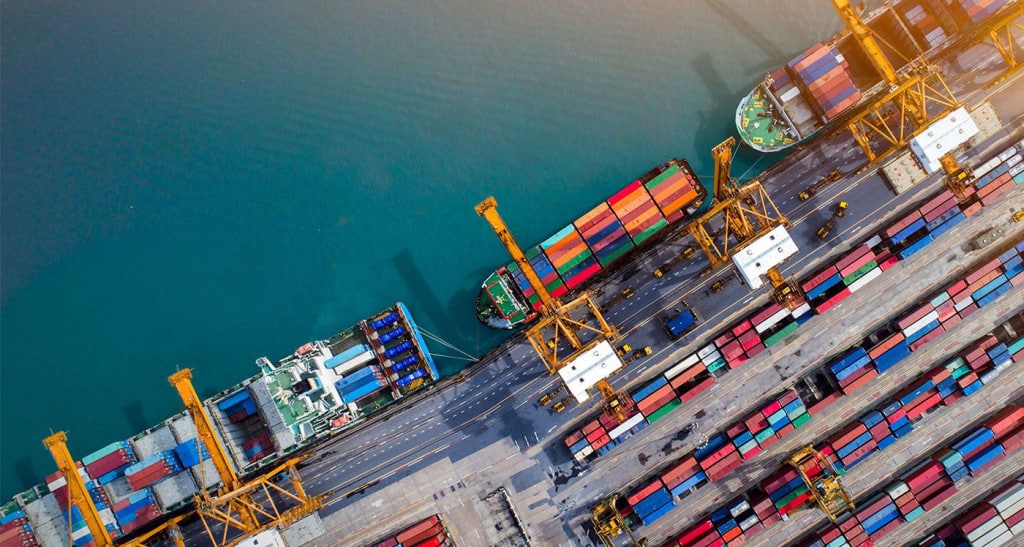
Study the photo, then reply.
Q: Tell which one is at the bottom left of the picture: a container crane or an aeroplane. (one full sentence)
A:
Visible at the bottom left of the picture is a container crane.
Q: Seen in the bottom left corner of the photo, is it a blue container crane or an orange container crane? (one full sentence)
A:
The one visible in the bottom left corner of the photo is an orange container crane.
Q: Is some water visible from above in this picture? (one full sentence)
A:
Yes, the picture does contain water.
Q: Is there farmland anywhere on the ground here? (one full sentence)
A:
No, the scene doesn't show any farmland.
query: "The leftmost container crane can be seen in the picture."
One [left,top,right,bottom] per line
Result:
[38,426,220,547]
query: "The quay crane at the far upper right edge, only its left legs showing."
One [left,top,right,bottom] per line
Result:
[949,9,1024,94]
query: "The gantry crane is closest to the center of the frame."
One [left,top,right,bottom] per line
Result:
[474,190,632,419]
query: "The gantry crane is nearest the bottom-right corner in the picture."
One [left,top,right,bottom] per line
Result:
[777,439,856,521]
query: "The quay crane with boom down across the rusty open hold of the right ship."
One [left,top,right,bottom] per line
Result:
[815,0,984,201]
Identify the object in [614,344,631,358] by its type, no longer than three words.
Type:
work vehicle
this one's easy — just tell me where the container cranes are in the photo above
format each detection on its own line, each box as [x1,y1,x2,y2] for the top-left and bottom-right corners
[667,129,803,309]
[579,485,645,547]
[165,364,333,547]
[38,426,220,547]
[815,0,984,201]
[777,439,856,521]
[474,190,632,419]
[949,9,1024,94]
